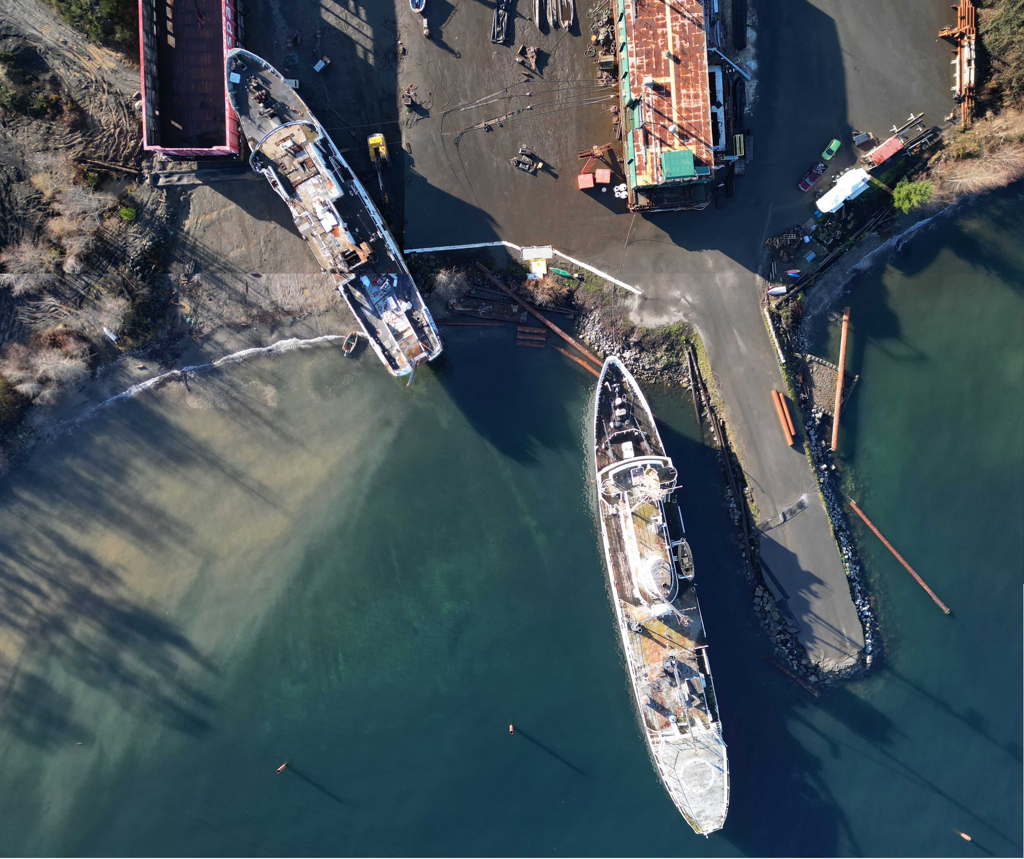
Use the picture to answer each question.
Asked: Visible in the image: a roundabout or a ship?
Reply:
ship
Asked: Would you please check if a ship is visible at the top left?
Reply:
Yes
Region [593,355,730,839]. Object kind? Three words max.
ship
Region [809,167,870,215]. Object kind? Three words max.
camper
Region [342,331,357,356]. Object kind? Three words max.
boat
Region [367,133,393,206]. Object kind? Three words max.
work vehicle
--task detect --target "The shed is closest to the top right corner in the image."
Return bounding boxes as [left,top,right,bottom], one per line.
[860,136,904,170]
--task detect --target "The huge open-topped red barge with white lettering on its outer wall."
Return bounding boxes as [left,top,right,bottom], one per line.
[137,0,256,173]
